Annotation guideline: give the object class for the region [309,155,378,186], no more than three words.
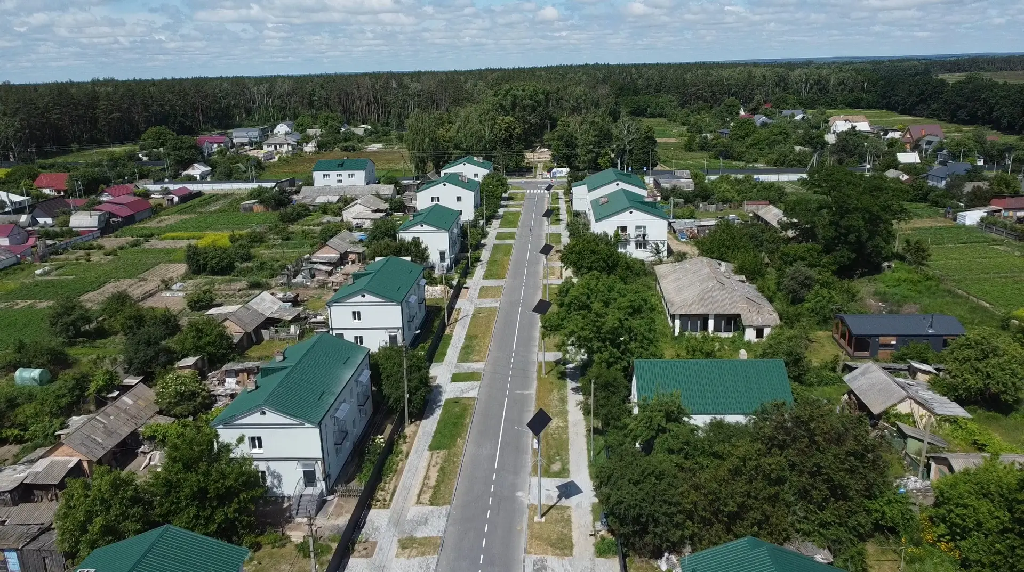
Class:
house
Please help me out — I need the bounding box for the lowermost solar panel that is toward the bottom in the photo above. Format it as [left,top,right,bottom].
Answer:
[525,410,551,441]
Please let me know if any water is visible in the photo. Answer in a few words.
No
